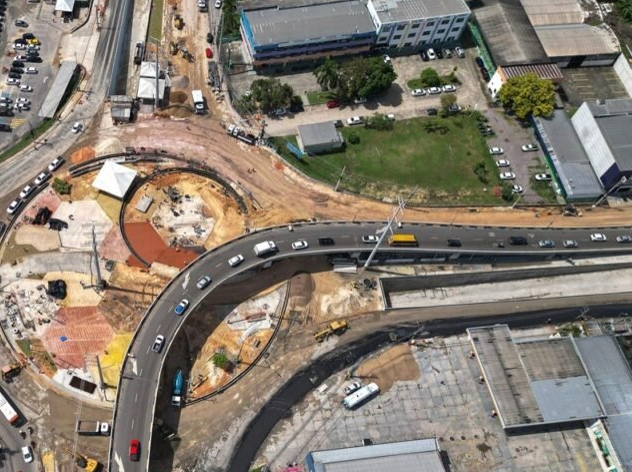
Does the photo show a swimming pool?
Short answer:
No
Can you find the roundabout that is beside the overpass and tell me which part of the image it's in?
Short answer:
left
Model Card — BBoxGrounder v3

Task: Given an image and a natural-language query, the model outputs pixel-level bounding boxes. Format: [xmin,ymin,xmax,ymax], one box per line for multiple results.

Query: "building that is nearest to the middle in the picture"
[331,265,356,278]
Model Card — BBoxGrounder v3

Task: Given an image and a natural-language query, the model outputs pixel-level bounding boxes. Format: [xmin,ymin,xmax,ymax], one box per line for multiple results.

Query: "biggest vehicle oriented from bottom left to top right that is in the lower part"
[342,379,382,409]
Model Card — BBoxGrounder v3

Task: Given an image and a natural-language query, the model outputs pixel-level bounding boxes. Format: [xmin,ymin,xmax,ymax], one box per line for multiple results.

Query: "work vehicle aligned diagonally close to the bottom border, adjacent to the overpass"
[74,445,99,472]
